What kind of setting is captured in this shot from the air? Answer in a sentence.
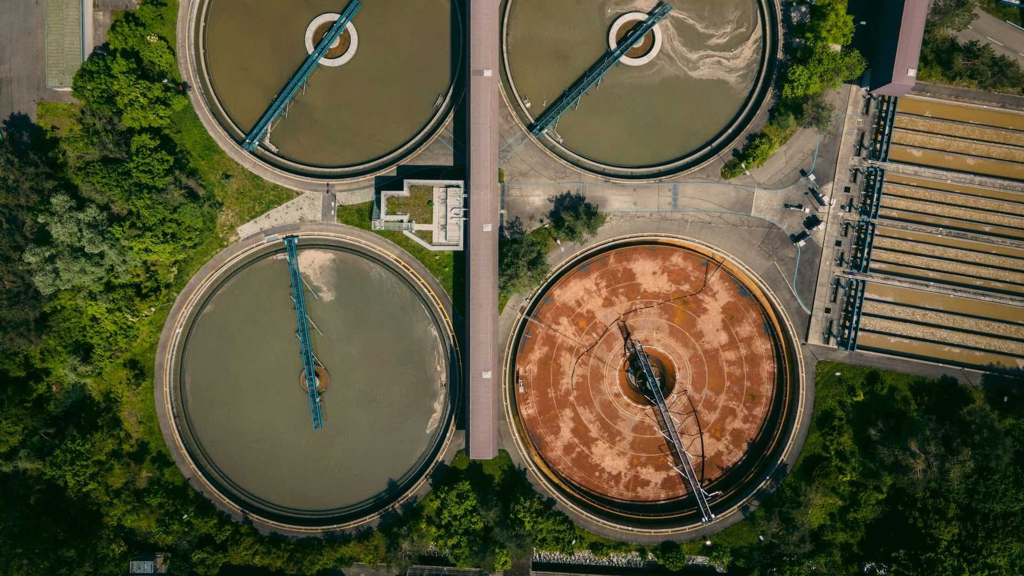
It's an industrial area.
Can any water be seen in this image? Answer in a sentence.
Yes, water shows up in the scene.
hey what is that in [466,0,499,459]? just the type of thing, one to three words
building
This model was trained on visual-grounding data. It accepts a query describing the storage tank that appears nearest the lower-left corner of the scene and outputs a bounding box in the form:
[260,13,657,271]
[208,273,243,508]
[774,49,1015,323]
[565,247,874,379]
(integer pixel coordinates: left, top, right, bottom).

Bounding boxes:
[167,235,460,528]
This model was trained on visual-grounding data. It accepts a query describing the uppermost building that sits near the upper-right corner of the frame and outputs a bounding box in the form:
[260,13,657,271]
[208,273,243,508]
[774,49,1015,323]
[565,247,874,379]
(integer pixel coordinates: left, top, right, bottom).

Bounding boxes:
[871,0,930,95]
